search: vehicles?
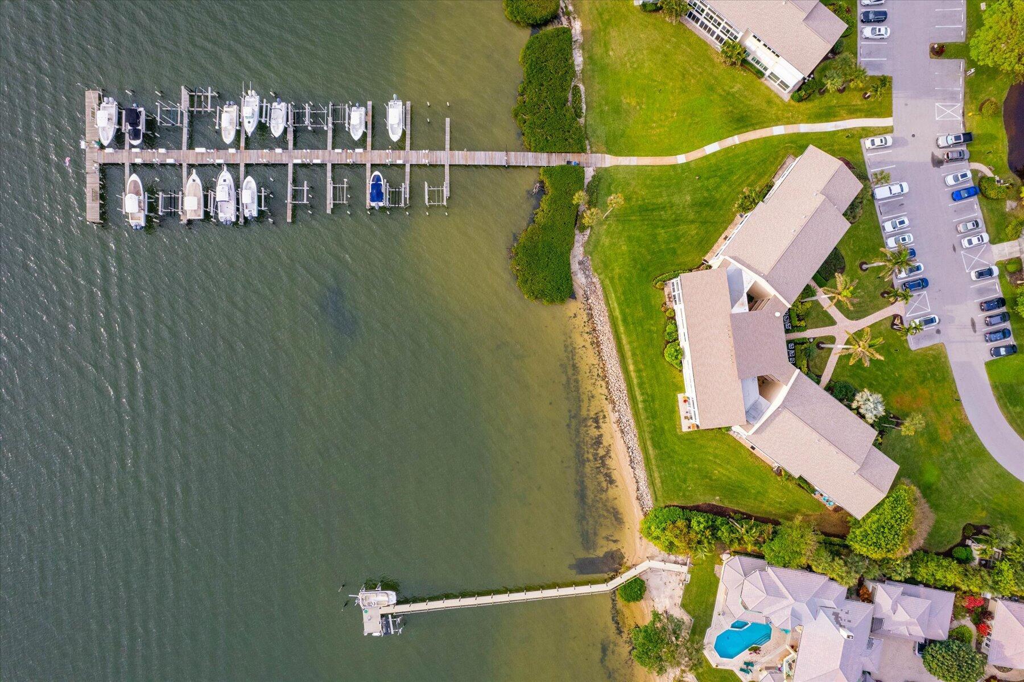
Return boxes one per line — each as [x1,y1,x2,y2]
[872,182,909,199]
[894,263,924,279]
[950,186,980,202]
[880,217,910,232]
[855,668,876,682]
[943,170,973,186]
[863,135,892,150]
[860,26,890,41]
[859,9,888,24]
[908,313,939,329]
[954,219,983,234]
[959,233,989,249]
[982,327,1012,343]
[977,297,1007,312]
[900,276,929,291]
[884,233,914,248]
[982,311,1011,327]
[889,247,916,260]
[911,637,927,662]
[988,343,1018,358]
[935,132,974,148]
[941,149,970,163]
[968,265,999,281]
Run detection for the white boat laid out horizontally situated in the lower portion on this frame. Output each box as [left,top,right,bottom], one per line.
[353,592,397,606]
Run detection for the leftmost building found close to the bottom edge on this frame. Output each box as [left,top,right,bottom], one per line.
[720,555,883,682]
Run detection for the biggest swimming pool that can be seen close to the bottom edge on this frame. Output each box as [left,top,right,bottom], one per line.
[712,621,774,661]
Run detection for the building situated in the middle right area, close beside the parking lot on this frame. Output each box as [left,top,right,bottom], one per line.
[670,145,899,520]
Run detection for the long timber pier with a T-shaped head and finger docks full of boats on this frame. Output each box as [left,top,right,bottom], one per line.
[85,86,608,224]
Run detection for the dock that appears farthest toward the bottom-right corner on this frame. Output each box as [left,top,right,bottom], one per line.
[363,558,688,634]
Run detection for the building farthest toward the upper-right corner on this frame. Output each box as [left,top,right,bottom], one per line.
[676,0,847,103]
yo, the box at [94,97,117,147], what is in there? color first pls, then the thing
white boat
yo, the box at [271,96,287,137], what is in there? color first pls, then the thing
white boat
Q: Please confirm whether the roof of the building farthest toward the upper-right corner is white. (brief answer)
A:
Yes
